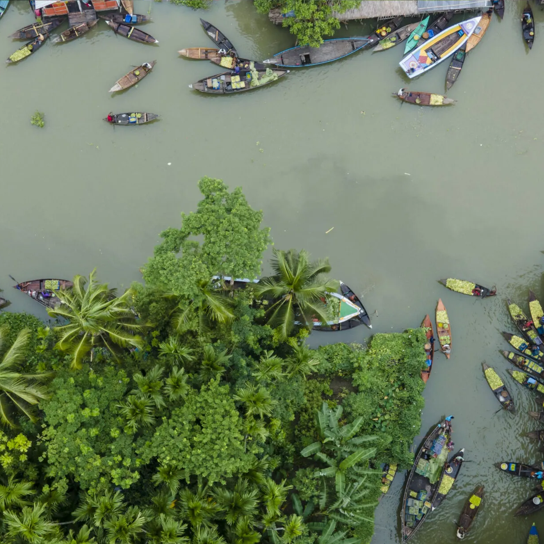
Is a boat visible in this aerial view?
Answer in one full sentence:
Yes, the photo shows a boat.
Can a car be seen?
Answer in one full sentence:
No, I find no car anywhere in the image.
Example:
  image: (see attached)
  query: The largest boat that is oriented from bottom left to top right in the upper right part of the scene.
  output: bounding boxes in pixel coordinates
[402,12,484,77]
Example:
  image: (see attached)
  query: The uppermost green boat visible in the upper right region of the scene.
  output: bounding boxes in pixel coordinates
[403,14,431,56]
